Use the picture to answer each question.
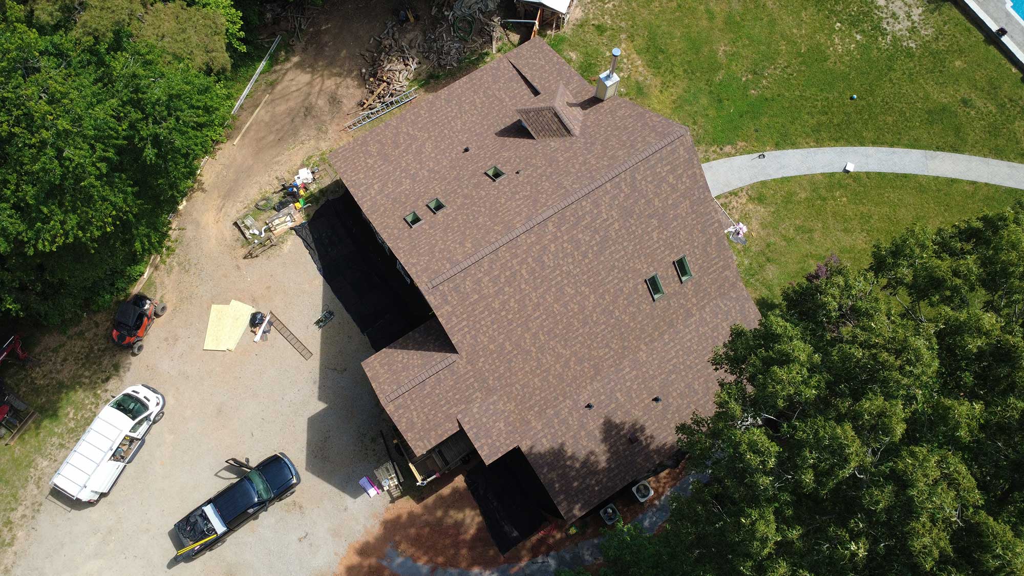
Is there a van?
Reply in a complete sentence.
Yes, there's a van here.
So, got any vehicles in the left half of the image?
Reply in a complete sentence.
Yes, in the left half of the image there is a vehicle.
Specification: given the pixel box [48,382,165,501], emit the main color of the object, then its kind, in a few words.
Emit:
white van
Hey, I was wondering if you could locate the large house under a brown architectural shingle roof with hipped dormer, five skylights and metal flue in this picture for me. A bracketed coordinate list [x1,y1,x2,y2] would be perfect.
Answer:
[331,36,775,528]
